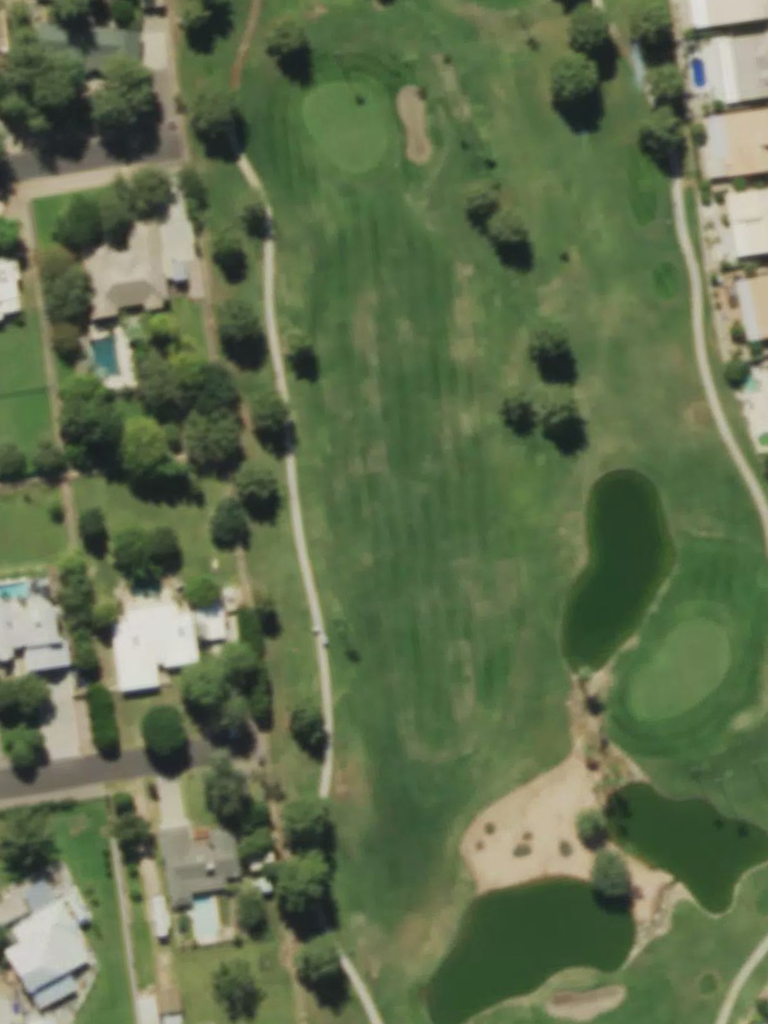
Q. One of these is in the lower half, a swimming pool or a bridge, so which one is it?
swimming pool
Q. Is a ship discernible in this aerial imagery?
No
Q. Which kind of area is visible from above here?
golf course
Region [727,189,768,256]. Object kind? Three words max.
house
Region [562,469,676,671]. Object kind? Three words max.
pond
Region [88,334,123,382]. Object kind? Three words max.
swimming pool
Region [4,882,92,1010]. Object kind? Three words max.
house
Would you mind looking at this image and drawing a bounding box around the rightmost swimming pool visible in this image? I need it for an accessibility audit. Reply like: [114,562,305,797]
[739,372,767,395]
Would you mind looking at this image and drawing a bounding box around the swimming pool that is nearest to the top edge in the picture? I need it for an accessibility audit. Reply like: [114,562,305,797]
[688,55,709,90]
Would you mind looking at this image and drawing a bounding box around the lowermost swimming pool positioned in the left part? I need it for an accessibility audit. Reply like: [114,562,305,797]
[192,890,224,934]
